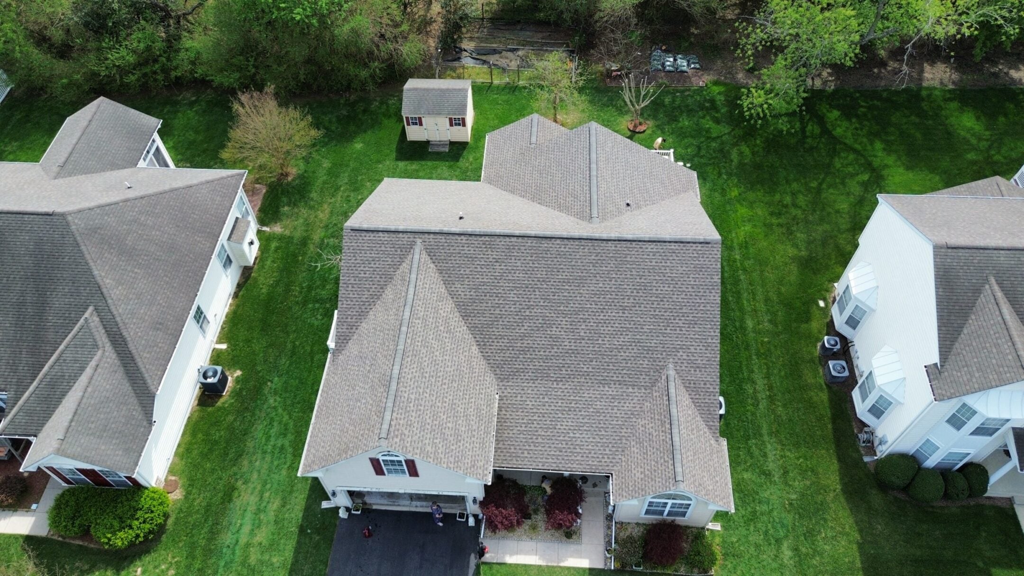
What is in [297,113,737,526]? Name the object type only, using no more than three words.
house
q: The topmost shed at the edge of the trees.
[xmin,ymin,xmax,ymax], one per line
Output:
[402,76,473,150]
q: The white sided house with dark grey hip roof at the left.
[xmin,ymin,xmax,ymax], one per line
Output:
[0,96,263,485]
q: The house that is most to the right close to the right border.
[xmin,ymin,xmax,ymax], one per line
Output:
[826,175,1024,511]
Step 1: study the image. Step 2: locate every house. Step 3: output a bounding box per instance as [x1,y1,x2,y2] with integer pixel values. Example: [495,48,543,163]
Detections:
[826,175,1024,511]
[0,96,263,485]
[297,113,737,526]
